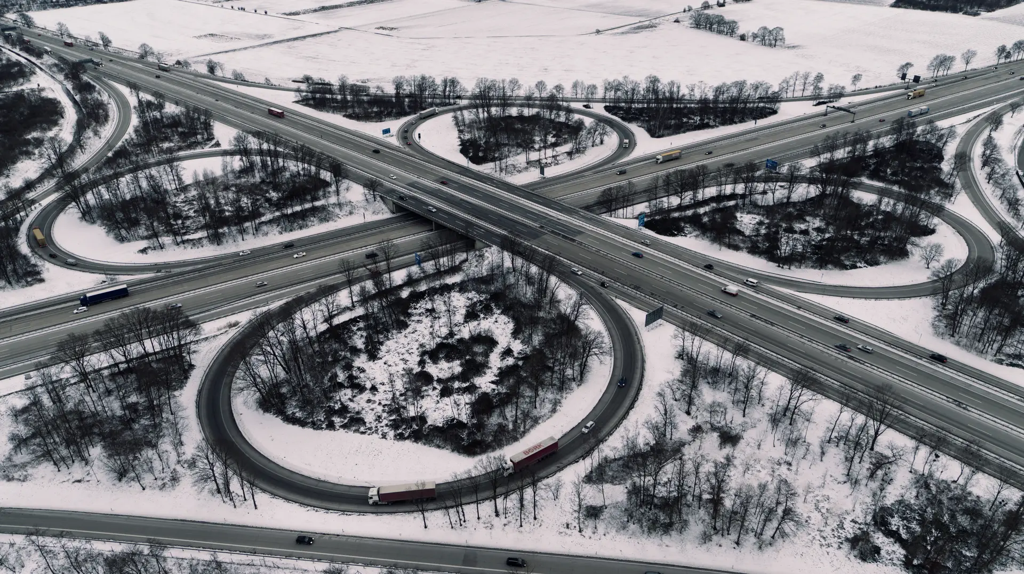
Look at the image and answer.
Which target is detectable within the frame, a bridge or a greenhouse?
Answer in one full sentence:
Looking from above, you can make out a bridge.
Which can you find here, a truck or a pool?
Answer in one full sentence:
This aerial view contains a truck.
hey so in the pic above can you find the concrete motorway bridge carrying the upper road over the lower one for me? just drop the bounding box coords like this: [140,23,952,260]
[387,172,593,252]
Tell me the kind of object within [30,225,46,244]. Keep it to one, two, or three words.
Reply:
vehicle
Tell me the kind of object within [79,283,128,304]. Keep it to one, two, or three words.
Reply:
truck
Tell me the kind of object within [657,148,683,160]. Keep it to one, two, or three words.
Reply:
vehicle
